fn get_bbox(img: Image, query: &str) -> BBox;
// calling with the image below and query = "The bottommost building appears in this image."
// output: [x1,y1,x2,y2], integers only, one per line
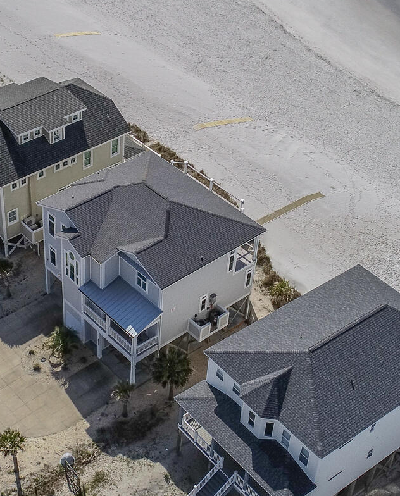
[172,266,400,496]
